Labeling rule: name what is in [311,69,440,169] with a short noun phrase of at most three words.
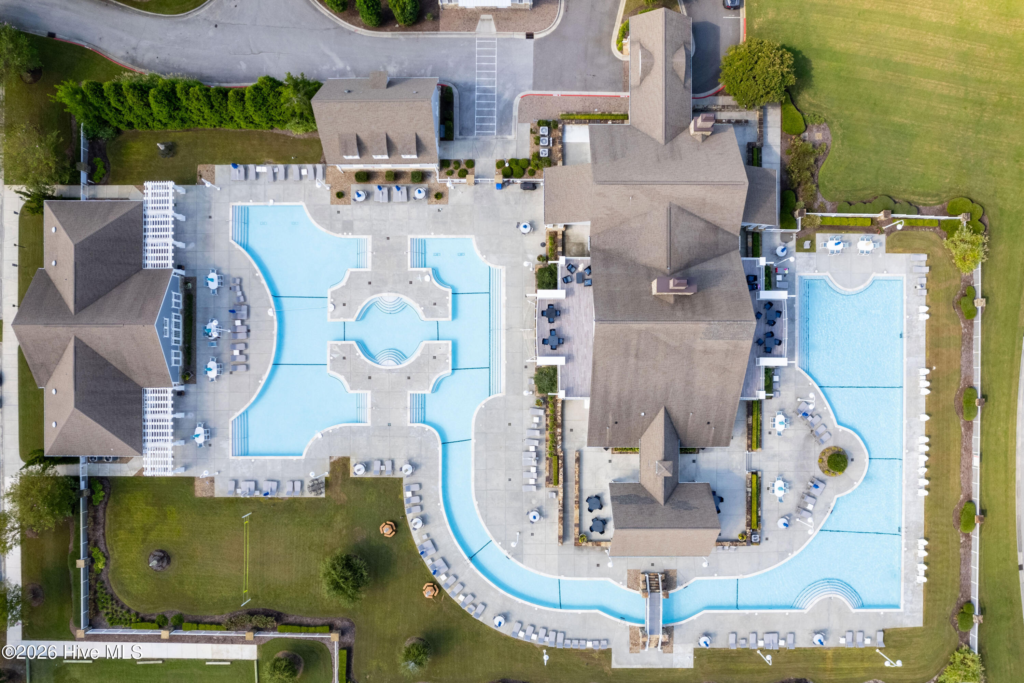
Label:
building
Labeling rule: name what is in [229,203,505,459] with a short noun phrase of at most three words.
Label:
swimming pool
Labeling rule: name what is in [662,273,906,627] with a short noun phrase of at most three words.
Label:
swimming pool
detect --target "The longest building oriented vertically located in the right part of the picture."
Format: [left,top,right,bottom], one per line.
[543,8,778,557]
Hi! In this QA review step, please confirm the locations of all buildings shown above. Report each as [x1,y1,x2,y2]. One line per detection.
[13,200,186,457]
[311,69,440,169]
[543,8,778,557]
[436,0,535,18]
